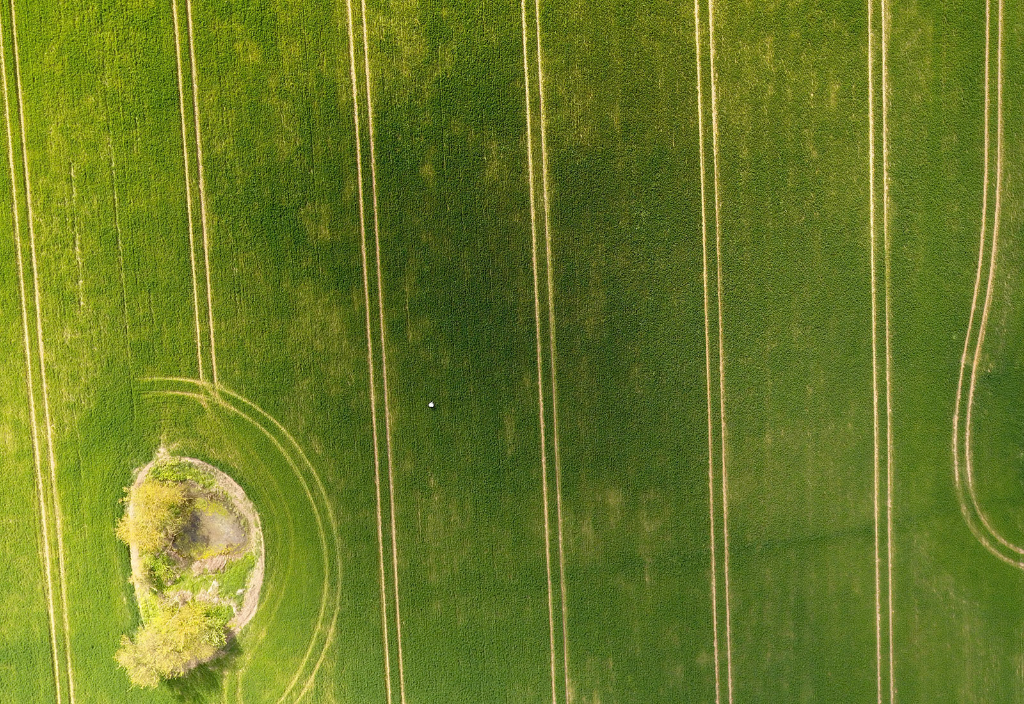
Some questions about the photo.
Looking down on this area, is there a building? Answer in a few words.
No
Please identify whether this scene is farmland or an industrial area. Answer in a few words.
farmland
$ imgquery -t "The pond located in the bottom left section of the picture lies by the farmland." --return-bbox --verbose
[190,501,255,552]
